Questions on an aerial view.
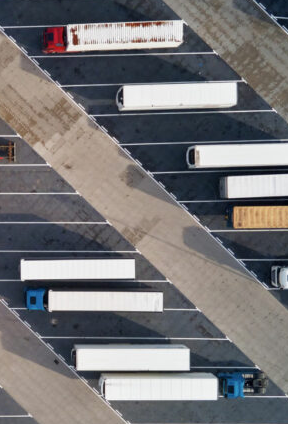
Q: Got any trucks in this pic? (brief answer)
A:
Yes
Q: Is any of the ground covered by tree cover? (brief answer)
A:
No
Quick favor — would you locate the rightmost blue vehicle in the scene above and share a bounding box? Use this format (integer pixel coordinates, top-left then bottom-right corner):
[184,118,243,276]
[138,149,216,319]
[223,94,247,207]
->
[219,372,269,399]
